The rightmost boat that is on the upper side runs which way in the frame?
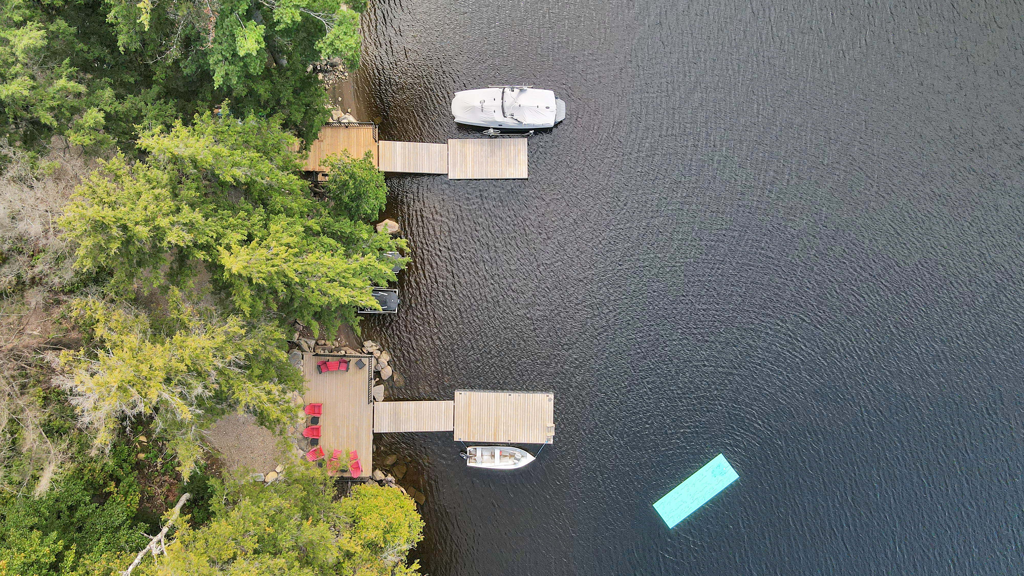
from left to right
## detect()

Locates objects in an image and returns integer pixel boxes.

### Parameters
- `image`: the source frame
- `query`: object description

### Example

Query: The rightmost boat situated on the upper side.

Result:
[451,83,565,129]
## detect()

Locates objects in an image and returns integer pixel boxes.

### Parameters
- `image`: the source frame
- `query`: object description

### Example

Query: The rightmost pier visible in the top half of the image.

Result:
[448,138,527,180]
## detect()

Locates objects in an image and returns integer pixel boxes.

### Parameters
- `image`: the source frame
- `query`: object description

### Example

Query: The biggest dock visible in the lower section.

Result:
[454,389,553,444]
